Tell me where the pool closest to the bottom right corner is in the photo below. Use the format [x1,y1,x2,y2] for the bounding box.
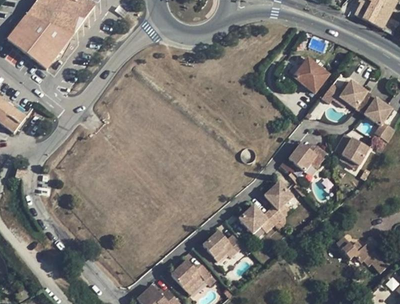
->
[312,180,328,202]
